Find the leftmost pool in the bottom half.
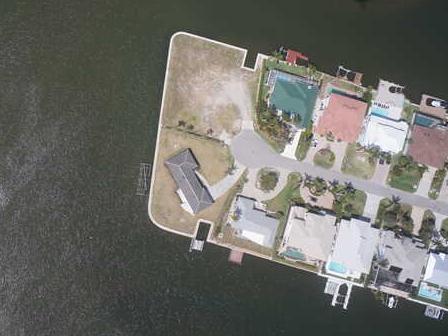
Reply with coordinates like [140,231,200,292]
[287,248,308,262]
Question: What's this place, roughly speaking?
residential area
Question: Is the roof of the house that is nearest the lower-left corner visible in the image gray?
Yes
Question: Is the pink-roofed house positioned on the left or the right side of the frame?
right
